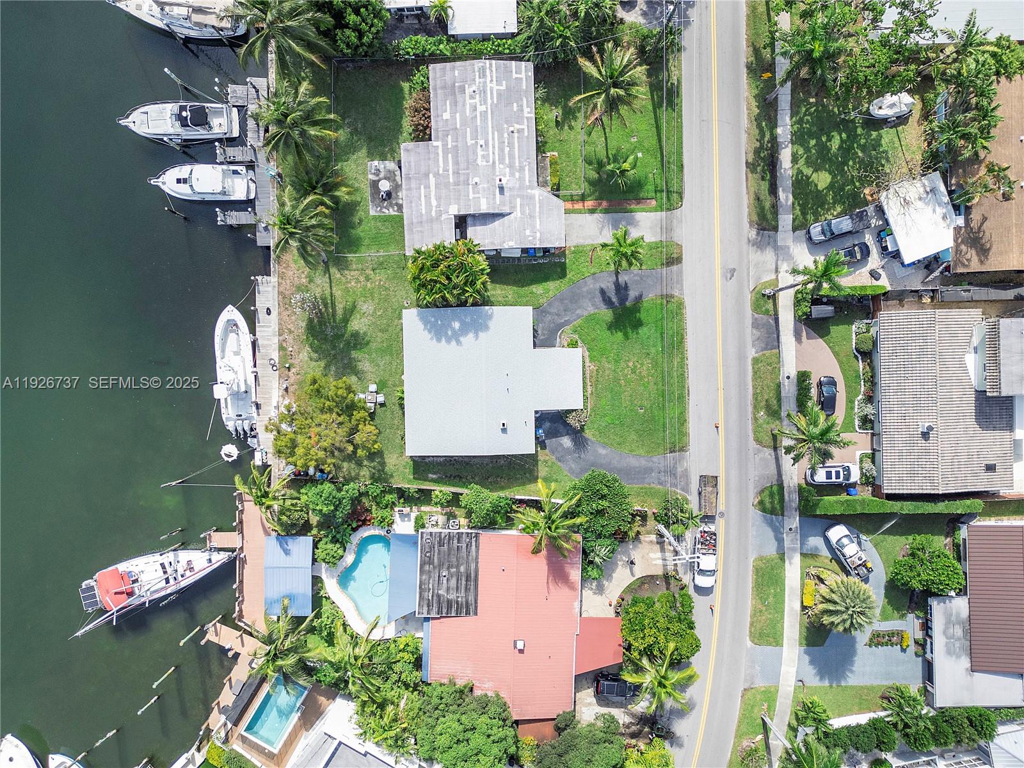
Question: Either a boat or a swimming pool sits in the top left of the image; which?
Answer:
boat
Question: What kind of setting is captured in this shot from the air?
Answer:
residential area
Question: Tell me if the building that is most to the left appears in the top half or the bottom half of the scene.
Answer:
bottom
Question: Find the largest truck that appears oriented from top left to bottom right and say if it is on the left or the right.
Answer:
right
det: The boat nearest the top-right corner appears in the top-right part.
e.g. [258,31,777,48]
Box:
[850,89,915,124]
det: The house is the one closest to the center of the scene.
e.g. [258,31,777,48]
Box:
[402,305,584,457]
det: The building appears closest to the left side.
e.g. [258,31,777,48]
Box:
[259,536,313,618]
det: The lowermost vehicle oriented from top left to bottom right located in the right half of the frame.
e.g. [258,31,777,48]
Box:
[829,522,877,582]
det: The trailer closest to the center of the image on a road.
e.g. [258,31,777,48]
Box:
[695,475,722,526]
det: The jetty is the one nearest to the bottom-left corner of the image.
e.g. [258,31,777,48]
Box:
[209,619,265,734]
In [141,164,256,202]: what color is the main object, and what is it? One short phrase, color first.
white boat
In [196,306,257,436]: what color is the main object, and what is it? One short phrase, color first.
white boat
